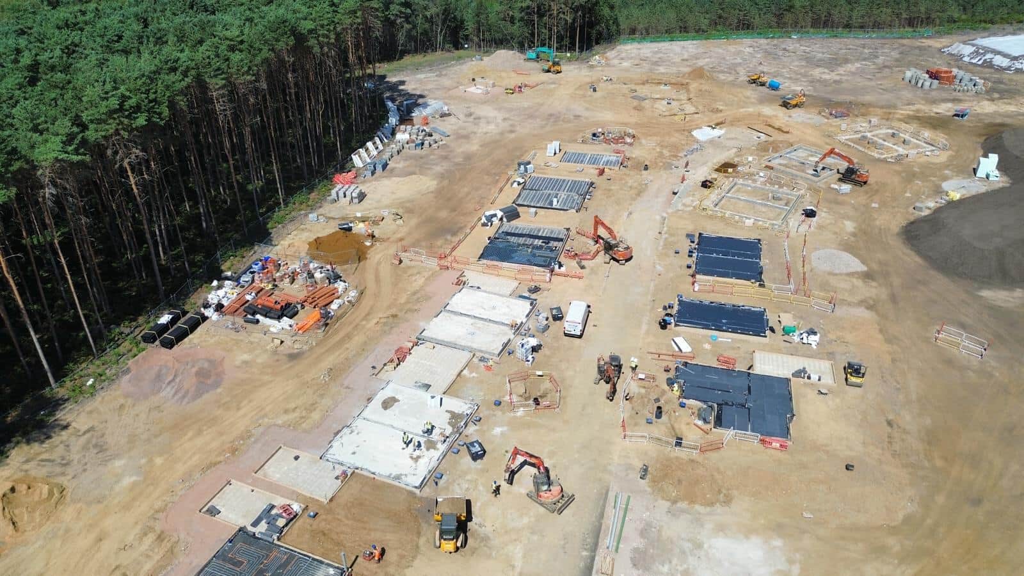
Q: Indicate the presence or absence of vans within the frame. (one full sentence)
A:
Yes, this view includes a van.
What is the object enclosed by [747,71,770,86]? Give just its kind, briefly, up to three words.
vehicle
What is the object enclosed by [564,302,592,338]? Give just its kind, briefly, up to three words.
van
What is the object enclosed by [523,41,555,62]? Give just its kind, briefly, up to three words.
work vehicle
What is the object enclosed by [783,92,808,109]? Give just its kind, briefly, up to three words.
vehicle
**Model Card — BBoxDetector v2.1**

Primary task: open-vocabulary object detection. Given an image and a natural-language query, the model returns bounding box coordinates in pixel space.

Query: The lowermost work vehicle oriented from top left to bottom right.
[505,450,580,519]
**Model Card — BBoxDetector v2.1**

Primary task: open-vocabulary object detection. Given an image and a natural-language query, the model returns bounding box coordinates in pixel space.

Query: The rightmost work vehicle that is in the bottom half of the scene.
[845,360,871,386]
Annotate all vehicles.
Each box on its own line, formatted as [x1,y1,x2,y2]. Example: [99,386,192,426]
[591,209,633,263]
[596,359,624,401]
[747,71,770,86]
[845,360,871,386]
[543,58,563,72]
[564,302,592,338]
[523,41,555,62]
[505,450,580,519]
[783,92,808,109]
[809,144,871,189]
